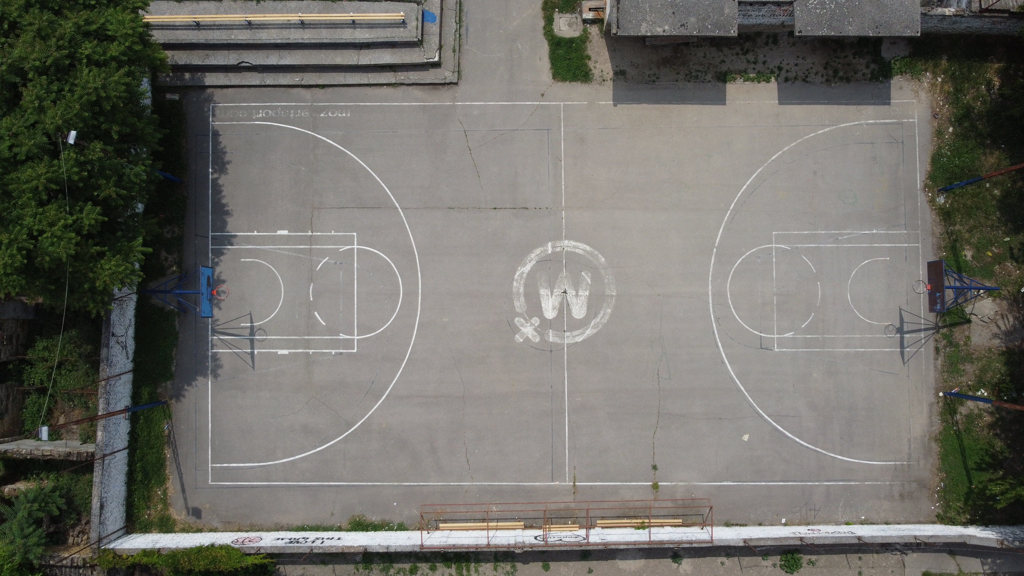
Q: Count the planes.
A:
0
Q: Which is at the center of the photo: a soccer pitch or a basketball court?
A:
basketball court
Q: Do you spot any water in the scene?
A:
No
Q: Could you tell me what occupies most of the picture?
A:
paved ground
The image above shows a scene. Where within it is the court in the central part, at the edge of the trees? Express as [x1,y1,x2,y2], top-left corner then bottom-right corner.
[195,21,924,488]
